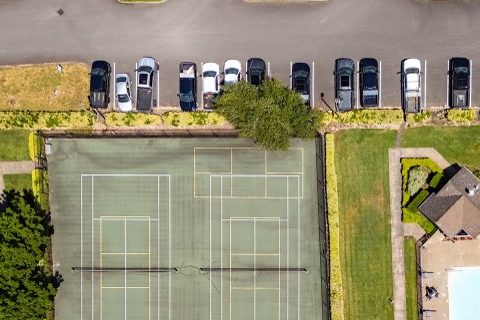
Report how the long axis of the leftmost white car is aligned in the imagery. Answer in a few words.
vertically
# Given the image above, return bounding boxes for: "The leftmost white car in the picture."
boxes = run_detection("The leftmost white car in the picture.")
[114,73,135,112]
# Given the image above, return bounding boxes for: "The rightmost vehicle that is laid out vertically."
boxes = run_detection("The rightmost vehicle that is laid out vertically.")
[450,59,471,110]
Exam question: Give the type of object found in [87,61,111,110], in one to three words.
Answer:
truck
